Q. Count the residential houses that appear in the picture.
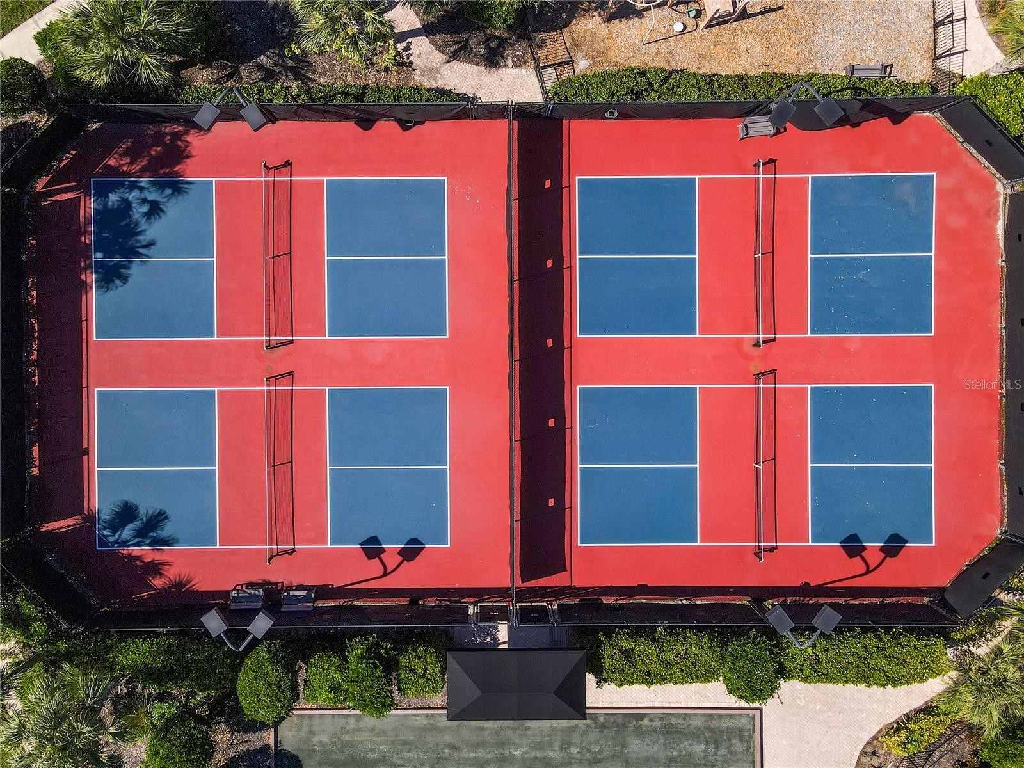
0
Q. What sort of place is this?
sports ground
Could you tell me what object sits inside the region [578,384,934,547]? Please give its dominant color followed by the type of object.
blue sports court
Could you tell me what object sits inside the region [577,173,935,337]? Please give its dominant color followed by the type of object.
blue sports court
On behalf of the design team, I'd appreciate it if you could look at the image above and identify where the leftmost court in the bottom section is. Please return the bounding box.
[94,387,449,548]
